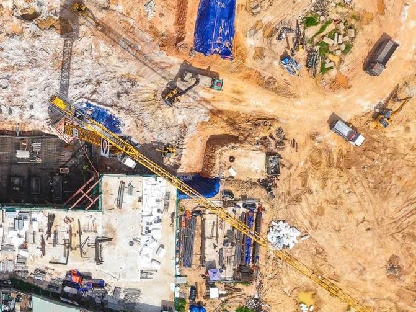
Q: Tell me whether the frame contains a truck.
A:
Yes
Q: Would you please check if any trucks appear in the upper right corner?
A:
Yes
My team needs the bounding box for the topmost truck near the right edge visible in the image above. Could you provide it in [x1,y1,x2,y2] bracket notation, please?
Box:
[367,33,407,77]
